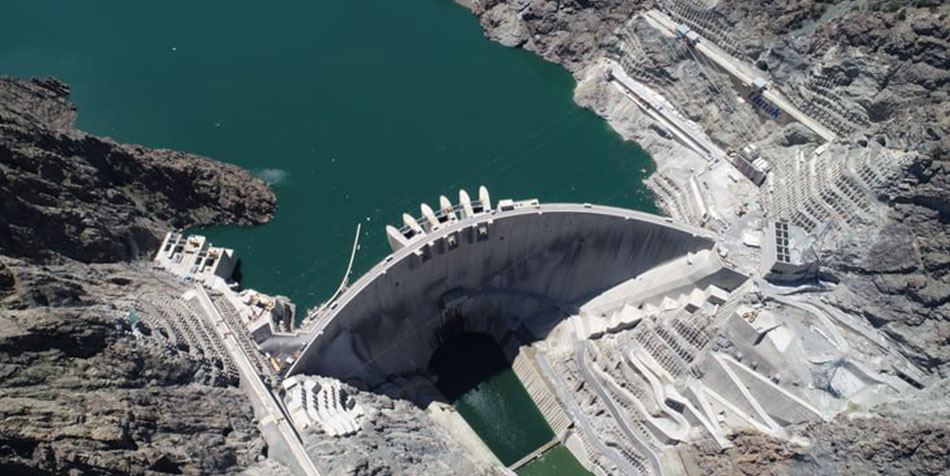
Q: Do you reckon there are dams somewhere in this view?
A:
Yes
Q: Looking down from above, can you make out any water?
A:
Yes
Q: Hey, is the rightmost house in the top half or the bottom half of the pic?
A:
bottom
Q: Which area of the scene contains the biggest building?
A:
right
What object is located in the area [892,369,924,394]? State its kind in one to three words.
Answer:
house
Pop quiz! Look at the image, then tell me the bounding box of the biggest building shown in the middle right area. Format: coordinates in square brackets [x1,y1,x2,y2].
[758,219,799,275]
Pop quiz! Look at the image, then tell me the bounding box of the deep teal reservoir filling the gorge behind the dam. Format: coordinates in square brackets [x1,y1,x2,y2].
[0,0,658,328]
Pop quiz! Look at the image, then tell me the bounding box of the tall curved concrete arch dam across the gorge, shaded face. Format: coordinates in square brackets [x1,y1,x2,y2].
[277,187,720,380]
